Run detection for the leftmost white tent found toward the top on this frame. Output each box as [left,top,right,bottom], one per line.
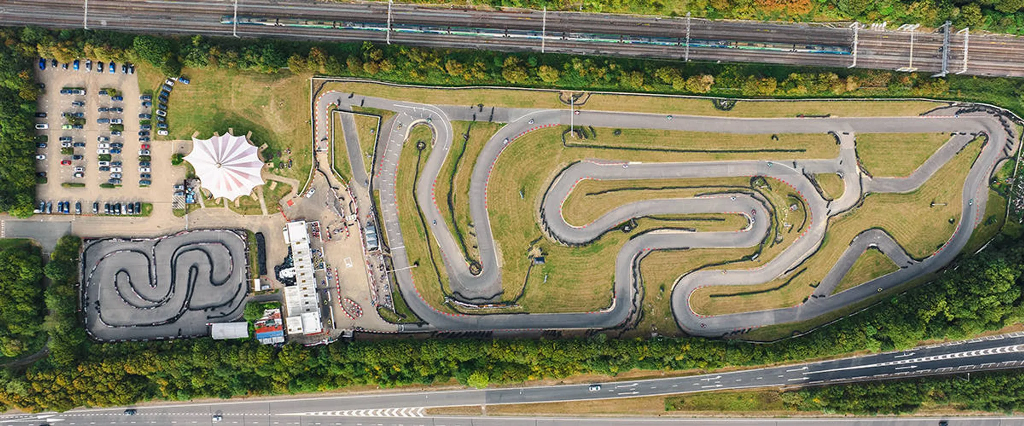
[183,132,264,201]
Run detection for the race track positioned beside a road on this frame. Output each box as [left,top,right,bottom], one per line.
[380,102,1006,335]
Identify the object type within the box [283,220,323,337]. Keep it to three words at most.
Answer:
building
